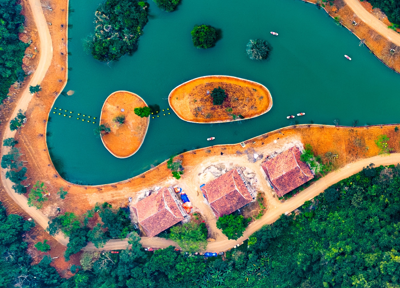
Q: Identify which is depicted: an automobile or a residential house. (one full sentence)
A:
There is a residential house in the scene.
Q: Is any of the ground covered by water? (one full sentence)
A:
Yes, there's water in this view.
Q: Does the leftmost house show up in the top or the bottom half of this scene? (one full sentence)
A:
It is in the bottom half that the leftmost house appears.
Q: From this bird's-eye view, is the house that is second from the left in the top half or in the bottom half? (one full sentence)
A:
The house that is second from the left sits in the bottom half of the picture.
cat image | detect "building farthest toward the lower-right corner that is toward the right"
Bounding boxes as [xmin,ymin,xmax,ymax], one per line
[261,146,314,198]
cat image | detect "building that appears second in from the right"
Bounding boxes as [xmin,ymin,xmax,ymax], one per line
[201,167,259,220]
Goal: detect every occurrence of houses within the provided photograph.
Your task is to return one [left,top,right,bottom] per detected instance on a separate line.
[131,185,189,237]
[201,167,259,220]
[261,146,314,198]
